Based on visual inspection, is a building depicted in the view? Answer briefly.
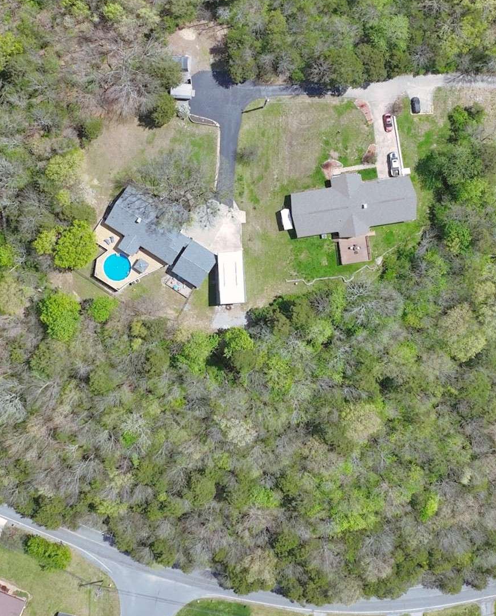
Yes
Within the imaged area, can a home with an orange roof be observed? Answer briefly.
No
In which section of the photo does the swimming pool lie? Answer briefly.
left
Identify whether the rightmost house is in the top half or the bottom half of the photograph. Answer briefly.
top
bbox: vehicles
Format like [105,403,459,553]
[390,151,402,175]
[411,95,420,114]
[383,113,395,132]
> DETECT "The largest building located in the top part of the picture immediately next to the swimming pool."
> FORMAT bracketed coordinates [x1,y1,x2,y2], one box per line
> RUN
[105,185,189,264]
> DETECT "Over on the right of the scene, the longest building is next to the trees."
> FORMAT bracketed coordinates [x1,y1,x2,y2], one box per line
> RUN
[290,173,416,238]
